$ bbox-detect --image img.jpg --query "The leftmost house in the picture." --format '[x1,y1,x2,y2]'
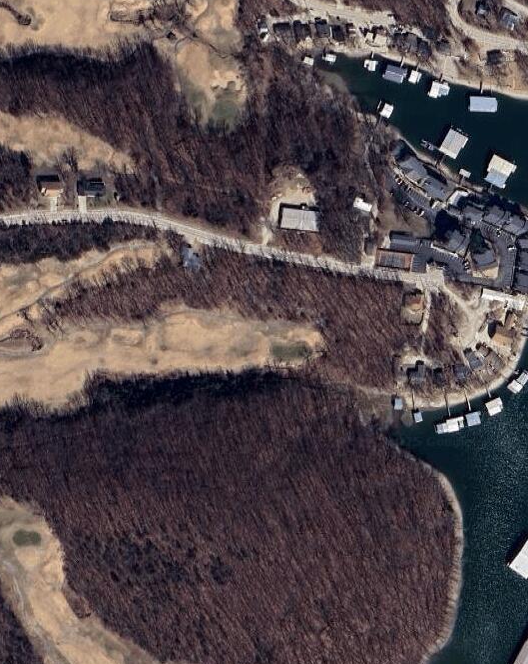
[39,178,61,196]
